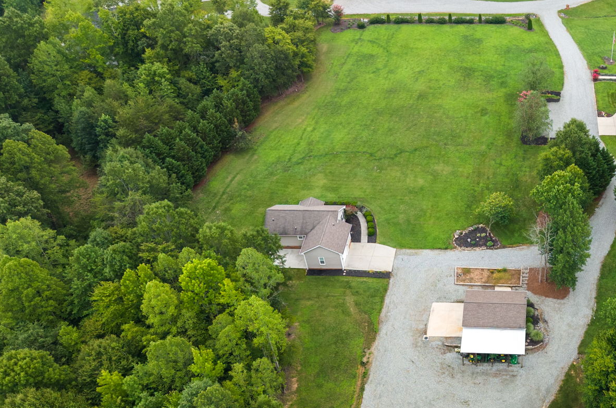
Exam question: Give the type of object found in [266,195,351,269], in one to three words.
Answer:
house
